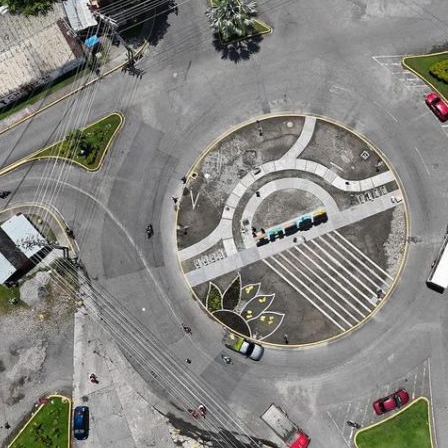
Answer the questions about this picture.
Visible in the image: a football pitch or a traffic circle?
traffic circle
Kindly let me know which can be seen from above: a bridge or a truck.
truck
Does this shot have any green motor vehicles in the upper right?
No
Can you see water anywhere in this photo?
No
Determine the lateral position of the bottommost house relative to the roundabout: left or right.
on the left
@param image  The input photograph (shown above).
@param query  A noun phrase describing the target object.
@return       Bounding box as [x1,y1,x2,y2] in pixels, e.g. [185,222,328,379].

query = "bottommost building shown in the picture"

[0,214,58,284]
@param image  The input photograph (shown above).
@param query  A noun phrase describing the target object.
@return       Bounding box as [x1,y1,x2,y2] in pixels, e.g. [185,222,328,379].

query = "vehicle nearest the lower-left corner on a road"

[72,404,90,440]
